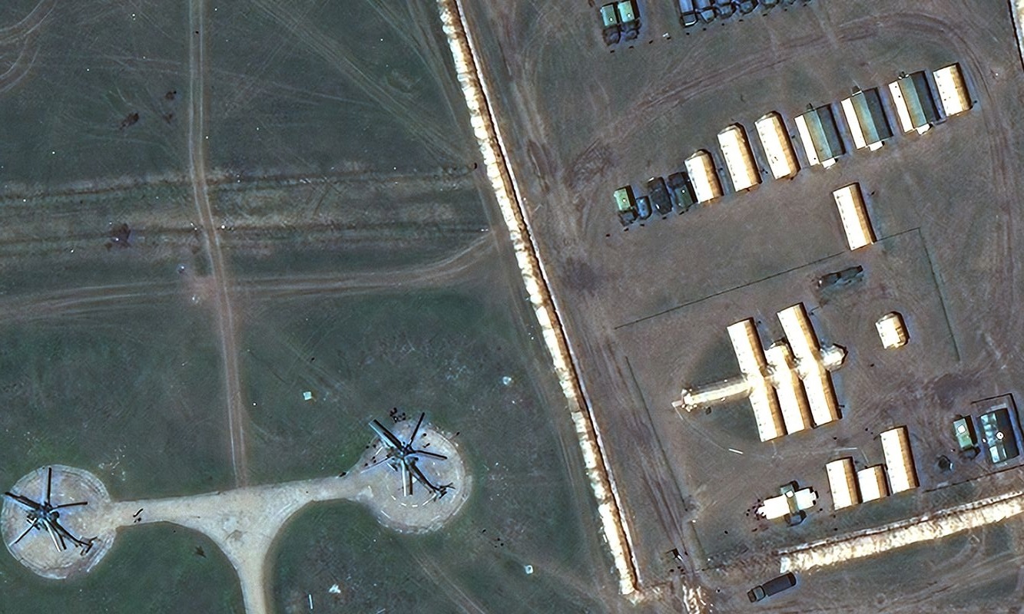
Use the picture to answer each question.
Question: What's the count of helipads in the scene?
2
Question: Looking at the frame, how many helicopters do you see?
2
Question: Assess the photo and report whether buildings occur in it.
Yes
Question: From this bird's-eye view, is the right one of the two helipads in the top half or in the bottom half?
bottom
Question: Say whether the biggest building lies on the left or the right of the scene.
right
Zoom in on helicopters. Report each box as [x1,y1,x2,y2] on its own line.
[3,467,95,556]
[362,413,449,500]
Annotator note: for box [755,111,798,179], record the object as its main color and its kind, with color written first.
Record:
white tent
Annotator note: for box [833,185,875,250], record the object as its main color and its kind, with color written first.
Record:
white tent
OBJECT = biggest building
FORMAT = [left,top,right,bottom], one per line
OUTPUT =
[681,306,843,442]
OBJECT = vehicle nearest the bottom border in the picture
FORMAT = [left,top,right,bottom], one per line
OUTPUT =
[746,573,796,604]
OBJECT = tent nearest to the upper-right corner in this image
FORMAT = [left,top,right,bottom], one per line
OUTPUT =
[933,66,969,116]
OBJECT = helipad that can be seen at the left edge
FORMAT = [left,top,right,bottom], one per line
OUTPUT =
[3,466,111,578]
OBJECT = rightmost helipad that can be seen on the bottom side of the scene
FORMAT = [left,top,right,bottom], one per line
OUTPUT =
[365,421,470,533]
